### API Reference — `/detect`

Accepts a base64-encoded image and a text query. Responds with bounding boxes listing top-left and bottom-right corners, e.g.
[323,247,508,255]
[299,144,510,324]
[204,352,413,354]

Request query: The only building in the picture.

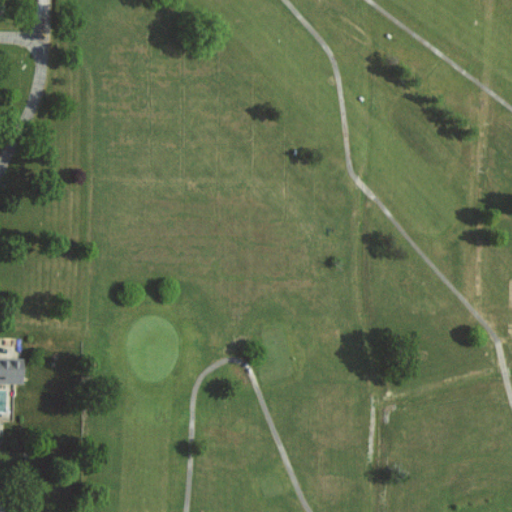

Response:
[0,358,28,386]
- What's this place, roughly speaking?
golf course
